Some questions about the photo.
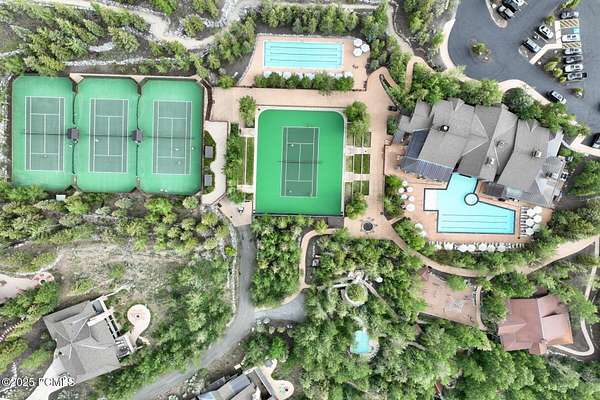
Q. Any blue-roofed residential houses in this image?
No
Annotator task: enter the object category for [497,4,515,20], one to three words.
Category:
car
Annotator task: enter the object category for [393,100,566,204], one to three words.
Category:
building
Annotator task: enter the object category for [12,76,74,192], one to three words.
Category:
tennis court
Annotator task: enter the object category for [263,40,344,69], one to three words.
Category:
swimming pool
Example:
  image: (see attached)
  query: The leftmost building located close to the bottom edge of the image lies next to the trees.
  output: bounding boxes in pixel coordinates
[43,289,125,380]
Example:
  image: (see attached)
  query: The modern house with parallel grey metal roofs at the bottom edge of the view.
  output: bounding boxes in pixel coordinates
[196,365,275,400]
